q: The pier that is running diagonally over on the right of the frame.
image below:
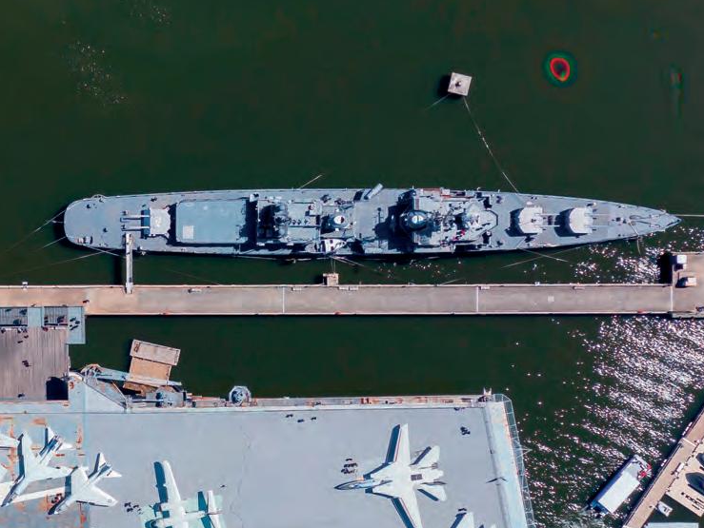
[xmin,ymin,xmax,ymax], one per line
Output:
[624,407,704,528]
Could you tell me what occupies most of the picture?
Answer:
water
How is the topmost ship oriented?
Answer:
from side to side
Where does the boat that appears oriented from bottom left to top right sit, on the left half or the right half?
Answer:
right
